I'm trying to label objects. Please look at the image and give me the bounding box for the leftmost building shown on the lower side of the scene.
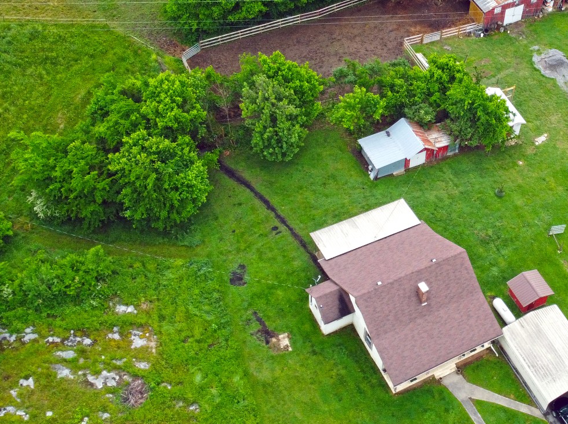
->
[305,200,504,394]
